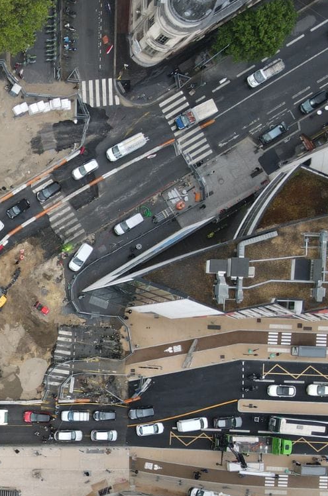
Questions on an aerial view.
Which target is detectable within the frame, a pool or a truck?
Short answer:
truck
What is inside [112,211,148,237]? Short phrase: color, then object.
white vehicle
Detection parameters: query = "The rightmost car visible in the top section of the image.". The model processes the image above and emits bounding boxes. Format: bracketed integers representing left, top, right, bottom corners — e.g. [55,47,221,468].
[297,89,328,115]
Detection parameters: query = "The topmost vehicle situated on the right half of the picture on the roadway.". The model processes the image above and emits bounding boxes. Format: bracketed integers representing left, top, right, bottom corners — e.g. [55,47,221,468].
[244,57,288,90]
